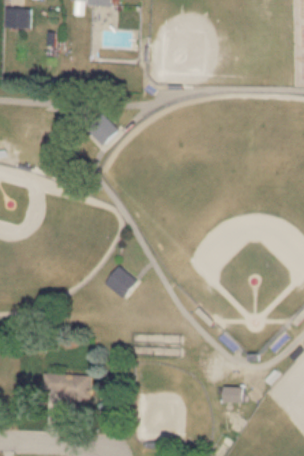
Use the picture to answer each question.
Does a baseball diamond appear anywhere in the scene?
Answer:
Yes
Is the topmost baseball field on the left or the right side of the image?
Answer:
right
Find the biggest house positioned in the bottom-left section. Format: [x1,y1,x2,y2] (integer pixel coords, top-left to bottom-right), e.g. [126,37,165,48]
[43,374,94,402]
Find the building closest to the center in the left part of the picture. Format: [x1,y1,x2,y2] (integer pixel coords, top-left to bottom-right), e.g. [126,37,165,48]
[104,264,138,298]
